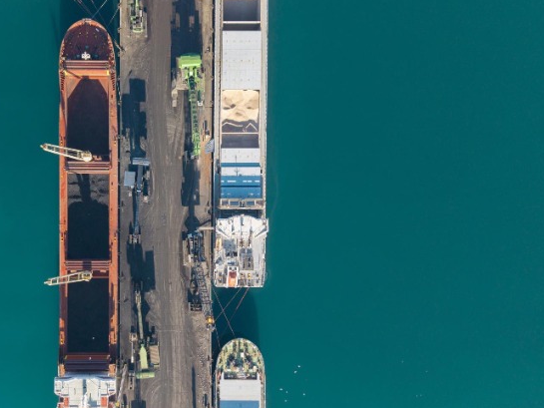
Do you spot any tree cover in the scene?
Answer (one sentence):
No, no tree cover is visible.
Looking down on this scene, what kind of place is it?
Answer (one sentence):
This image shows a port.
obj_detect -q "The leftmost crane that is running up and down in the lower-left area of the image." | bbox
[130,290,153,373]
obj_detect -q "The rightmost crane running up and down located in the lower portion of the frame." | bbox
[182,228,208,316]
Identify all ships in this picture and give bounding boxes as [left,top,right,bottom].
[212,0,270,288]
[213,338,266,408]
[41,16,118,408]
